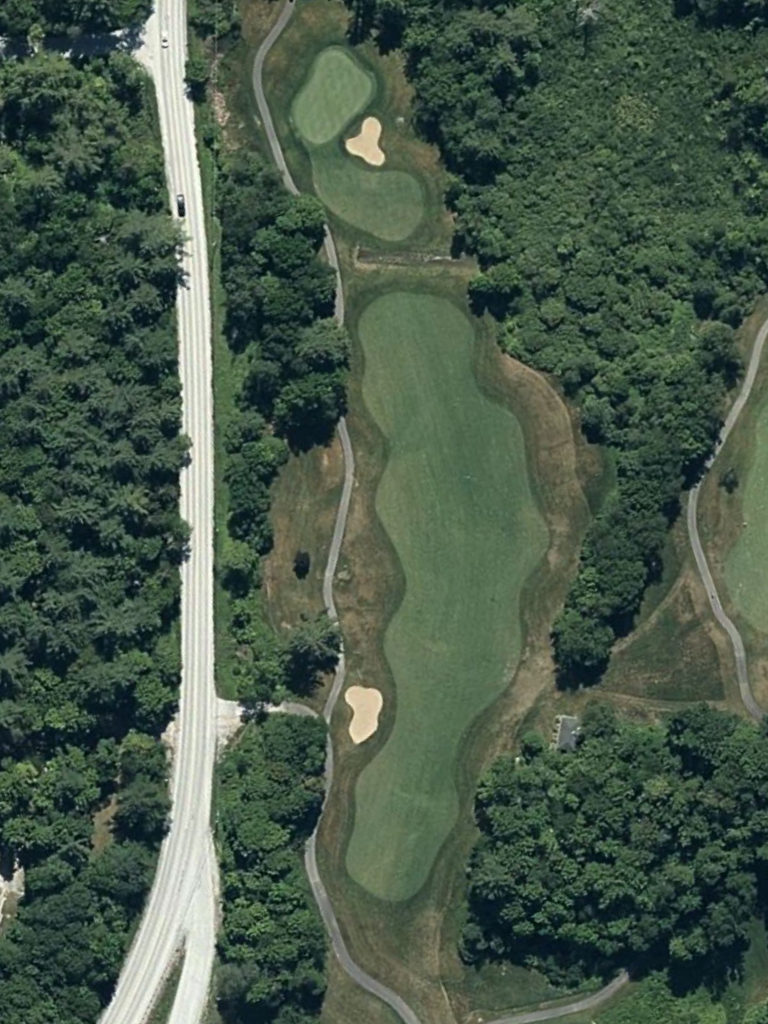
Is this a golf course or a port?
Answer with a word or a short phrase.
golf course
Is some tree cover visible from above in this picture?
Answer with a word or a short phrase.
Yes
